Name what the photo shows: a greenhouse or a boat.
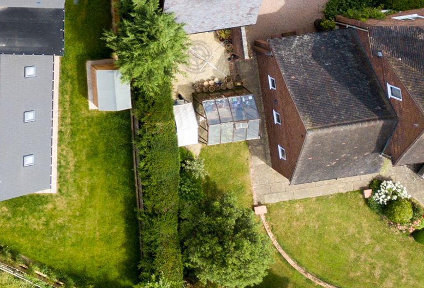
greenhouse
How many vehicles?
0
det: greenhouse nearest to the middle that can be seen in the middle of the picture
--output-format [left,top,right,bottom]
[193,90,261,146]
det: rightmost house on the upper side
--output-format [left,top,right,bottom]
[247,13,424,187]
